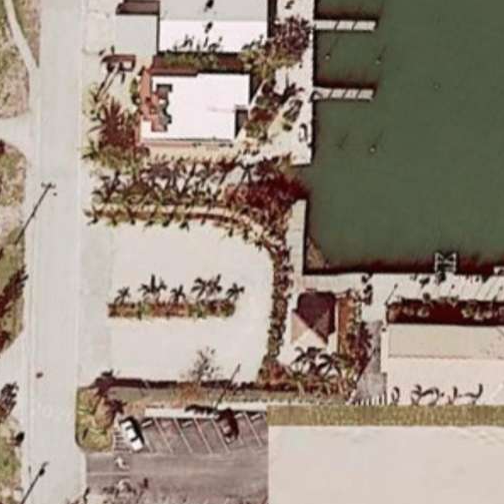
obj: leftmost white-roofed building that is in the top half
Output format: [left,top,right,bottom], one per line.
[114,15,157,55]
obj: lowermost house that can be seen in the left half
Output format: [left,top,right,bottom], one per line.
[140,70,250,148]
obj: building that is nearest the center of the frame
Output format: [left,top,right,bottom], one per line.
[291,309,327,345]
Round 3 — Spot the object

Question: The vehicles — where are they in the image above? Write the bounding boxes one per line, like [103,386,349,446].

[220,412,239,440]
[120,420,144,451]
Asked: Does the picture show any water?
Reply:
Yes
